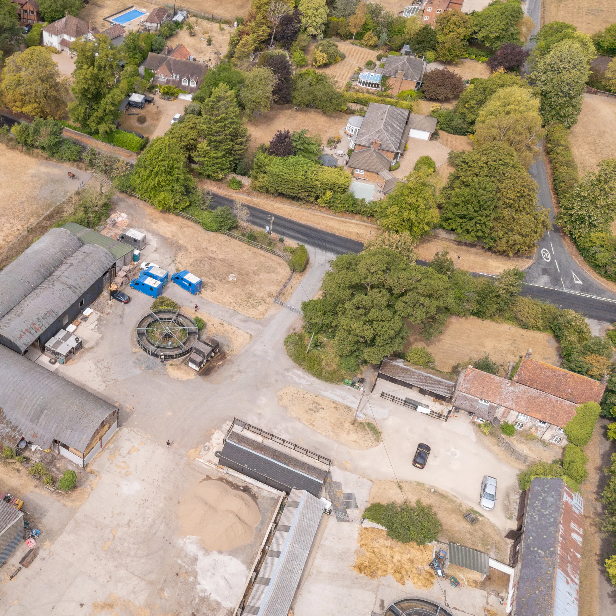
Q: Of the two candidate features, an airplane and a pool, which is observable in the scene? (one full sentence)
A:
Of the two, only a pool appears.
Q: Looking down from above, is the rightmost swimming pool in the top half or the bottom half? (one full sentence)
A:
The rightmost swimming pool is in the top half of the image.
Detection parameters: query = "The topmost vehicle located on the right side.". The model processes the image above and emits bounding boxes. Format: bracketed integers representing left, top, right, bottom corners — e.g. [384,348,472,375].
[415,439,434,469]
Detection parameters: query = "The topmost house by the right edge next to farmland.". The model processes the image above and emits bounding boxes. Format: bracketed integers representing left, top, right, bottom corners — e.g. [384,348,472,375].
[449,345,611,448]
